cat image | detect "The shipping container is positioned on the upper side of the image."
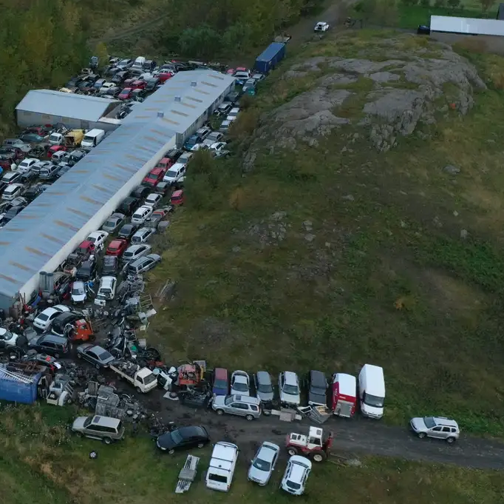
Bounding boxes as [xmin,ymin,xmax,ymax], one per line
[255,43,283,72]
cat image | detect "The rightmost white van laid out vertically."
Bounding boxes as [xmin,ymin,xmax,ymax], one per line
[361,358,390,416]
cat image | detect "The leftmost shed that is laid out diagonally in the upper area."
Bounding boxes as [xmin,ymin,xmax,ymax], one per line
[0,73,225,318]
